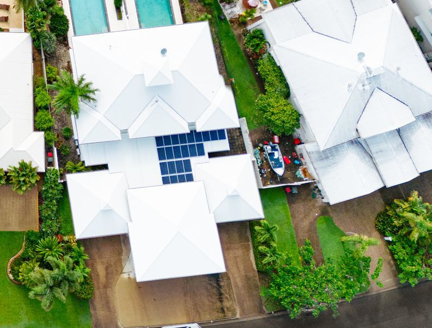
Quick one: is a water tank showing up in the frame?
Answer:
No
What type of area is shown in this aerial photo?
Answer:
residential area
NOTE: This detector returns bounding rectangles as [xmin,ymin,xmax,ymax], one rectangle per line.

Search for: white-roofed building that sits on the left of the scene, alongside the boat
[65,22,264,283]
